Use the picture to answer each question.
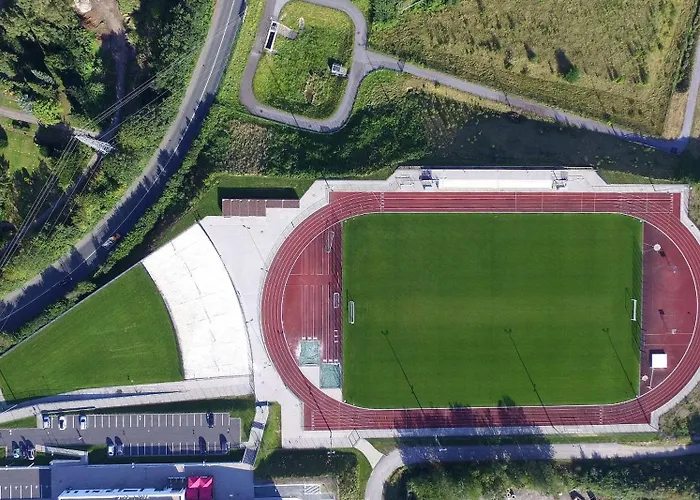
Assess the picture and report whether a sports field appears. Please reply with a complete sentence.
Yes, I can see a sports field in this picture.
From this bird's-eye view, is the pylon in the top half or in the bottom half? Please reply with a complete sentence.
You can find the pylon in the top half.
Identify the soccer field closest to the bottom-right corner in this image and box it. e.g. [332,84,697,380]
[342,213,644,408]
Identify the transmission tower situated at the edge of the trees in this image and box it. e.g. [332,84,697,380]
[70,133,114,157]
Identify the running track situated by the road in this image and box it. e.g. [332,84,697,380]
[261,192,700,430]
